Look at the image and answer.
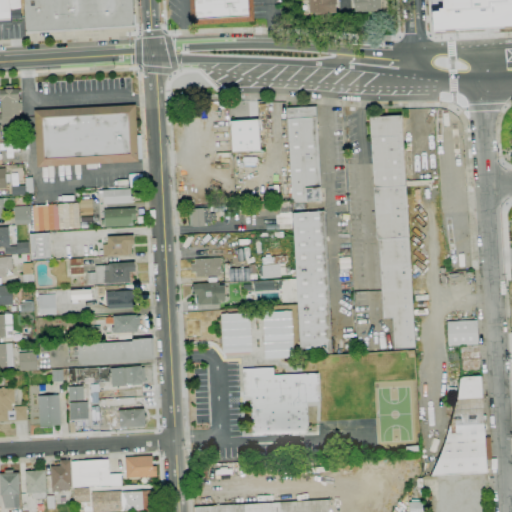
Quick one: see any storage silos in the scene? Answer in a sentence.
No, no storage silo is visible in the view.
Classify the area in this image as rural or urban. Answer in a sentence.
It looks urban.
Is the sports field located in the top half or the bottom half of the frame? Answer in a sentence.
You can find the sports field in the bottom half.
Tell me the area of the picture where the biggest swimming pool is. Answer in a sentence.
The biggest swimming pool sits in the left section of the image.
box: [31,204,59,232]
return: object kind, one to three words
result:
building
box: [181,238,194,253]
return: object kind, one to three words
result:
vehicle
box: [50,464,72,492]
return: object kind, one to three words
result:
house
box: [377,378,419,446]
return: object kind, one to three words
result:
basketball court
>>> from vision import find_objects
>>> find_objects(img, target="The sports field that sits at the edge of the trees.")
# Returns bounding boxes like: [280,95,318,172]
[319,350,417,420]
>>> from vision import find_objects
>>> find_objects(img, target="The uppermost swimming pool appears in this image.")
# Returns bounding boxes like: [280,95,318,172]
[36,262,57,288]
